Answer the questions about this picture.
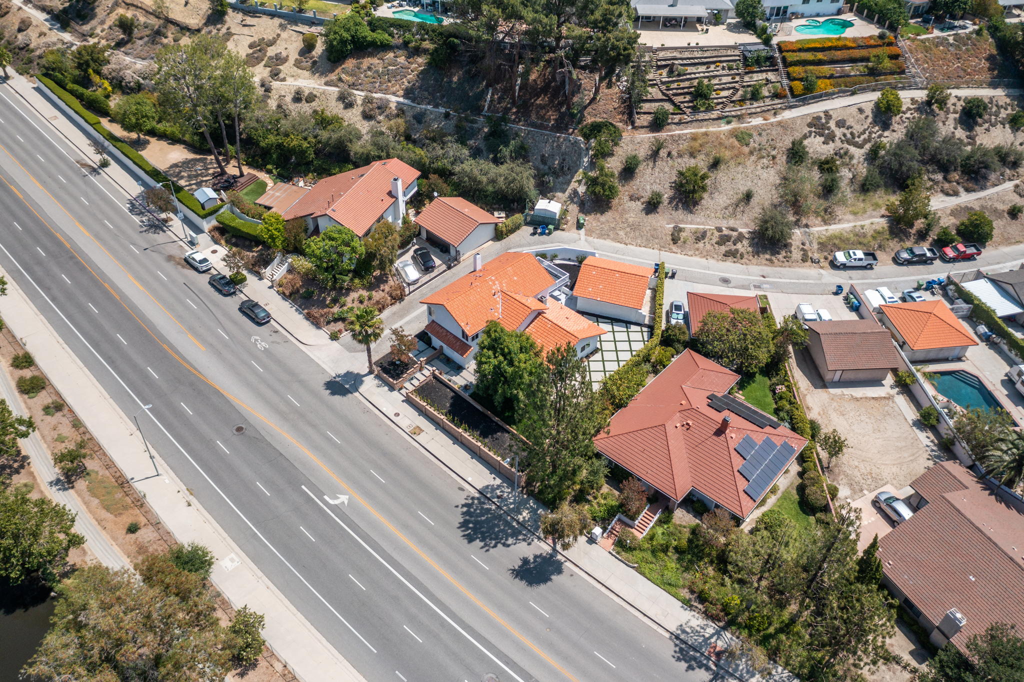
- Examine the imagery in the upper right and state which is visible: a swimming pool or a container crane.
swimming pool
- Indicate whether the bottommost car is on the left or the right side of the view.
right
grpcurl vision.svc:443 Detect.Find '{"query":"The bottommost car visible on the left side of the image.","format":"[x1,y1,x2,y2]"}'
[238,299,272,327]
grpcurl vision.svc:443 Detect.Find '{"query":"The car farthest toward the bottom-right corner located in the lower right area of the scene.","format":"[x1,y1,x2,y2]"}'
[875,490,919,528]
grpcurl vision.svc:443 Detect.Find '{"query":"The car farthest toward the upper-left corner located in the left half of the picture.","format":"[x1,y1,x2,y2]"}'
[182,250,212,275]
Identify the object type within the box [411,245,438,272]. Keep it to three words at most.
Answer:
car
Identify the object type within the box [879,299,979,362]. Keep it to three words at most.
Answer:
building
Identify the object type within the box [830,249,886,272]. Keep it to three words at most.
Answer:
truck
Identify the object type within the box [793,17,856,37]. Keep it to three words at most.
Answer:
swimming pool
